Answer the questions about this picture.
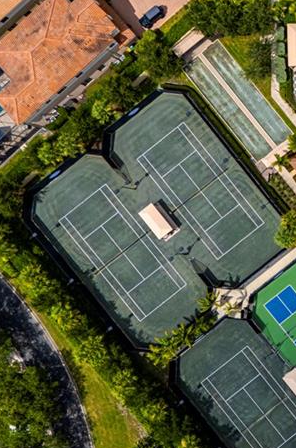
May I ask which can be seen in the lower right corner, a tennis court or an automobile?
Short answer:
tennis court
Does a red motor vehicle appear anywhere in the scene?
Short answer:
No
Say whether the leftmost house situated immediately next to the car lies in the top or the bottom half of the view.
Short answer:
top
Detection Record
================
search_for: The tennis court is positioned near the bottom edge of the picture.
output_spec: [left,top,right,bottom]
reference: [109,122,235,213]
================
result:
[201,346,296,448]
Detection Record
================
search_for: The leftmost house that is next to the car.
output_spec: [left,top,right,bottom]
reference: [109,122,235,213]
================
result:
[0,0,141,127]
